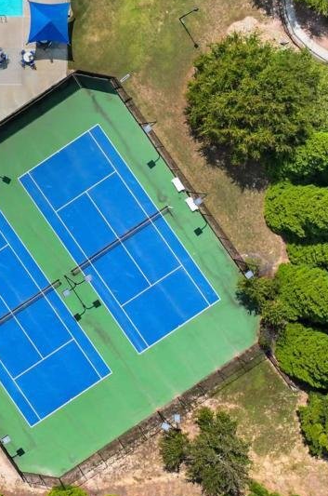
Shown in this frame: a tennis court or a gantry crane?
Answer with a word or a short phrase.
tennis court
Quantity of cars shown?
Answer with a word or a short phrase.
none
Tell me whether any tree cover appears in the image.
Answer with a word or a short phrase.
Yes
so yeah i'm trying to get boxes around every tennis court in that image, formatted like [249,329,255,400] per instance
[0,211,111,427]
[16,124,219,353]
